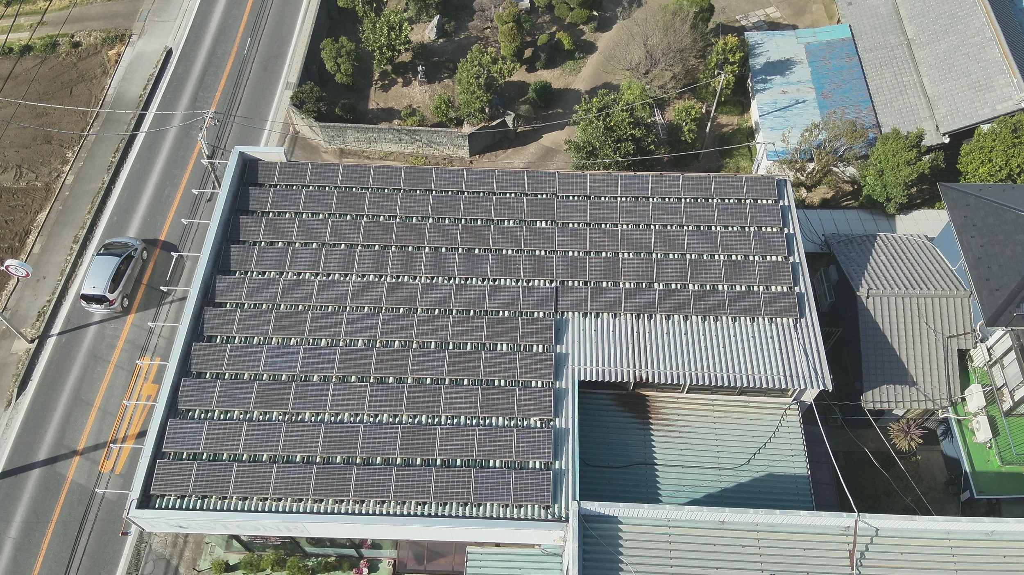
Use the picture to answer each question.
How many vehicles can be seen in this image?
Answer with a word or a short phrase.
1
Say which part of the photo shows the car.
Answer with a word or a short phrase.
left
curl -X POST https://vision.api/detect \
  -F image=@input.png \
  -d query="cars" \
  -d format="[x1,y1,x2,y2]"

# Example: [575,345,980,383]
[75,239,147,317]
